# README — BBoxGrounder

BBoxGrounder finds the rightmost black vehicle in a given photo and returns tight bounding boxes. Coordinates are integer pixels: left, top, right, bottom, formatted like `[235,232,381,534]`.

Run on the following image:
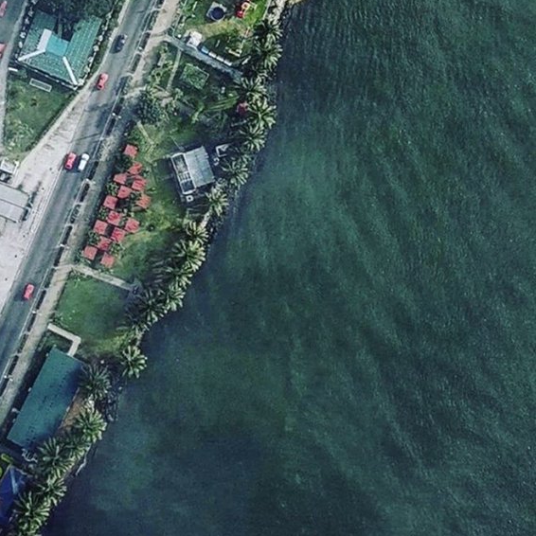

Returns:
[113,33,125,52]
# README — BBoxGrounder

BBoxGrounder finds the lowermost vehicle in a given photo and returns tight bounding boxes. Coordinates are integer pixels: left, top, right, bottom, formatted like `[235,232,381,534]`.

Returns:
[21,283,33,302]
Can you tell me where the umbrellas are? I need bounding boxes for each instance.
[82,244,99,261]
[122,142,140,159]
[135,193,152,211]
[95,234,112,252]
[111,227,127,243]
[107,209,122,225]
[117,184,132,200]
[123,216,140,234]
[131,175,146,191]
[100,252,115,269]
[112,171,128,185]
[92,219,109,235]
[127,160,143,176]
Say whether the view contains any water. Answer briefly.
Yes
